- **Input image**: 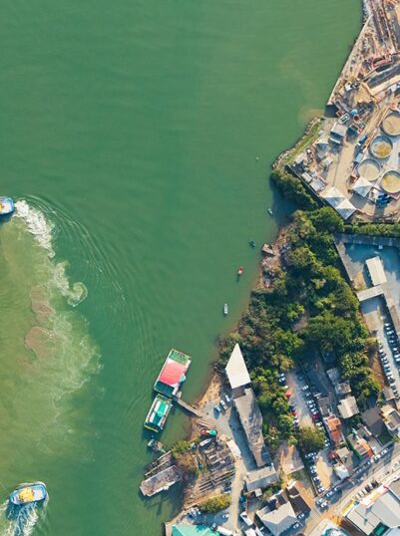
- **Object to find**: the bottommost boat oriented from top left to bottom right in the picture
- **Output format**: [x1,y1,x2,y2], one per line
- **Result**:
[148,439,166,454]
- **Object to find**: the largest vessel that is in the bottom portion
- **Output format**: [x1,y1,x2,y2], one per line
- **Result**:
[154,349,191,398]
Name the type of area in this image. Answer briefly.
port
